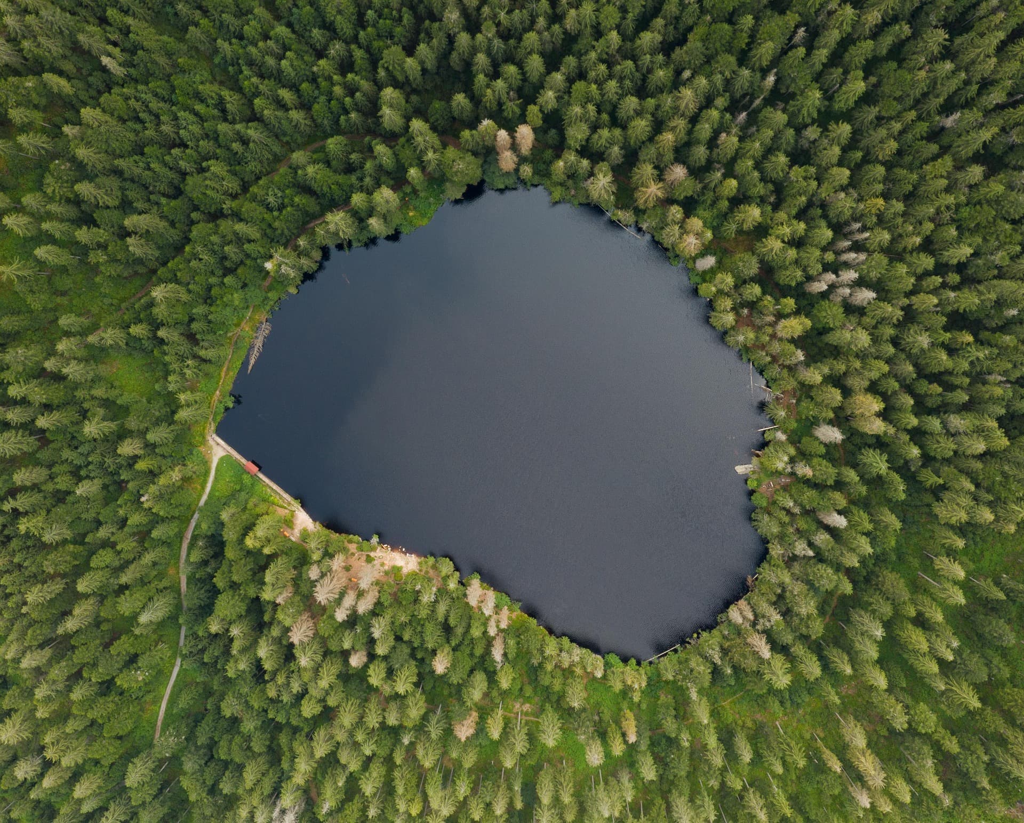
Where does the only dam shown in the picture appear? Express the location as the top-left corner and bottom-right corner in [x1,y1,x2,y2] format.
[212,434,317,524]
